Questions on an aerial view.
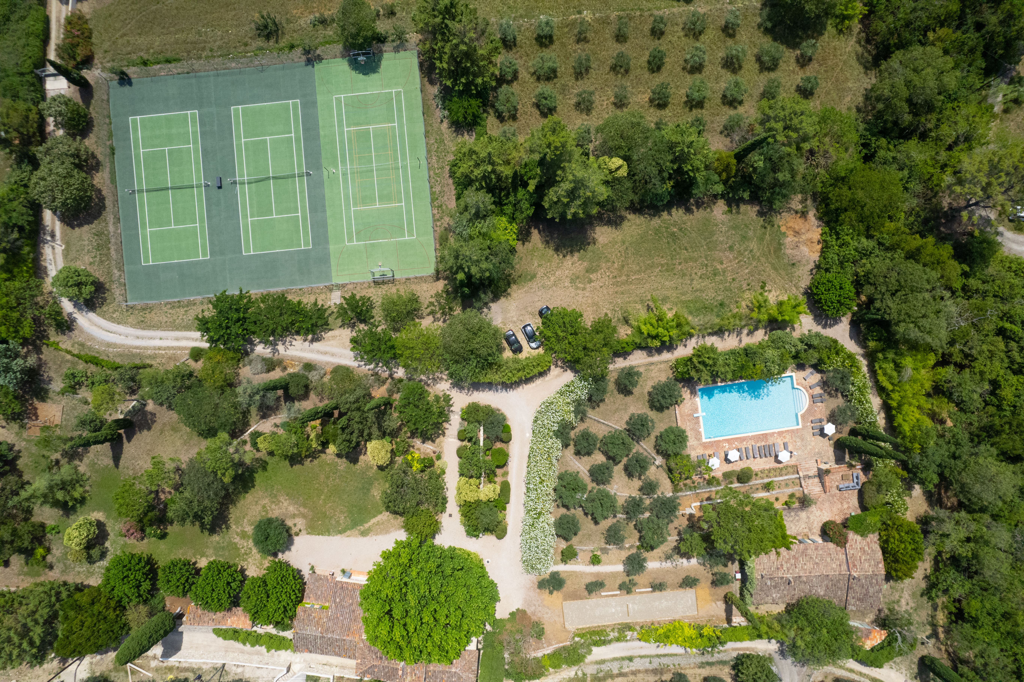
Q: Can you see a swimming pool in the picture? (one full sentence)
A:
Yes, a swimming pool appears in the view.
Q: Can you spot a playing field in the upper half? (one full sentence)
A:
No, no playing field appears in the upper half.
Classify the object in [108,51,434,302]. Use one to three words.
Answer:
sports court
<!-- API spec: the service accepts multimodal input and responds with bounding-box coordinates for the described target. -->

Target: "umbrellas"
[823,421,836,436]
[777,449,790,463]
[727,448,740,462]
[707,456,721,469]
